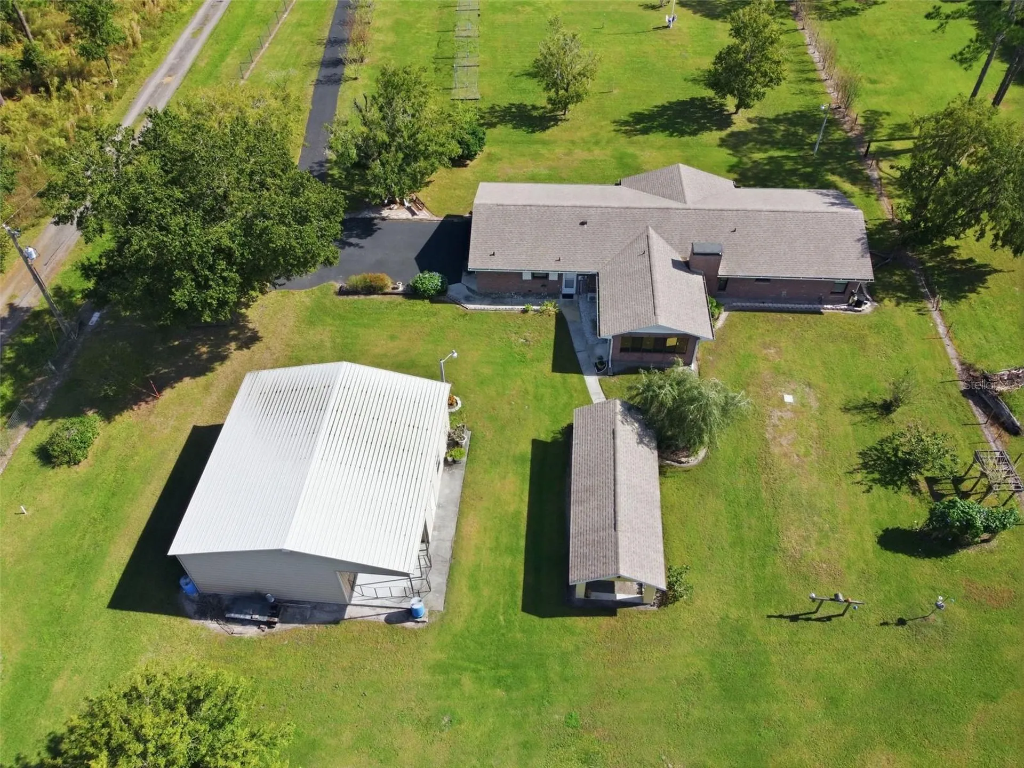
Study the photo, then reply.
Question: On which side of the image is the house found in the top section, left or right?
right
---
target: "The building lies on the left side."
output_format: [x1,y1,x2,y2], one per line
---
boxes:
[167,361,451,606]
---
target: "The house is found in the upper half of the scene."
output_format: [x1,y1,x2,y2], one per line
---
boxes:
[468,162,874,368]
